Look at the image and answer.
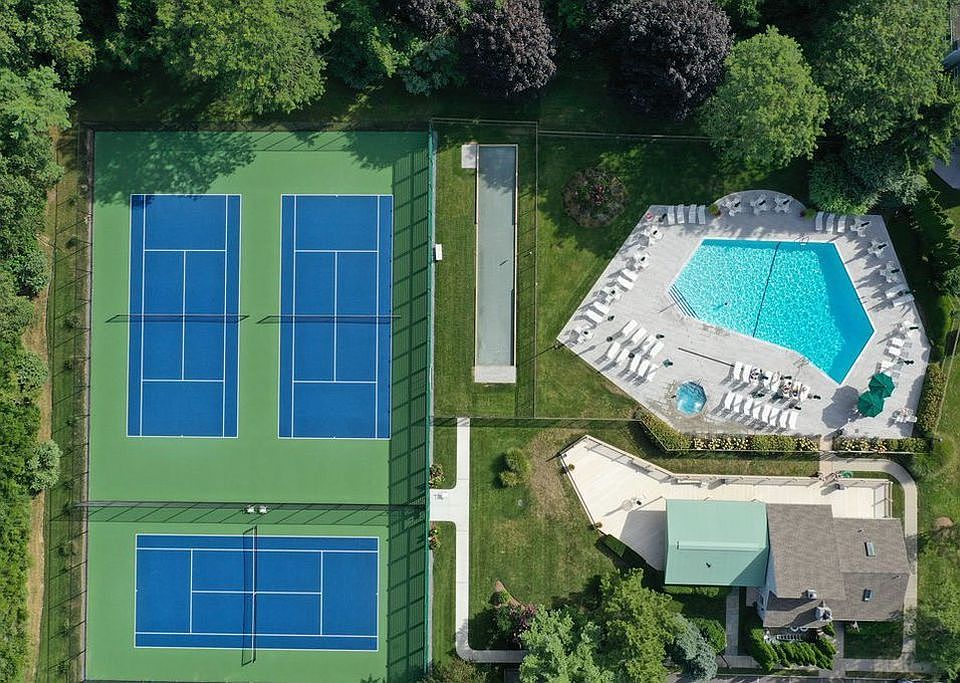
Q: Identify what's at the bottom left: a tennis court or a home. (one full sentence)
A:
Visible at the bottom left is a tennis court.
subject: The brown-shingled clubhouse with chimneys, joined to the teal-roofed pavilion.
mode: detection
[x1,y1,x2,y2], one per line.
[759,502,910,628]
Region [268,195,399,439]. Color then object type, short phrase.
blue tennis court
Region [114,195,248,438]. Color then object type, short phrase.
blue tennis court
